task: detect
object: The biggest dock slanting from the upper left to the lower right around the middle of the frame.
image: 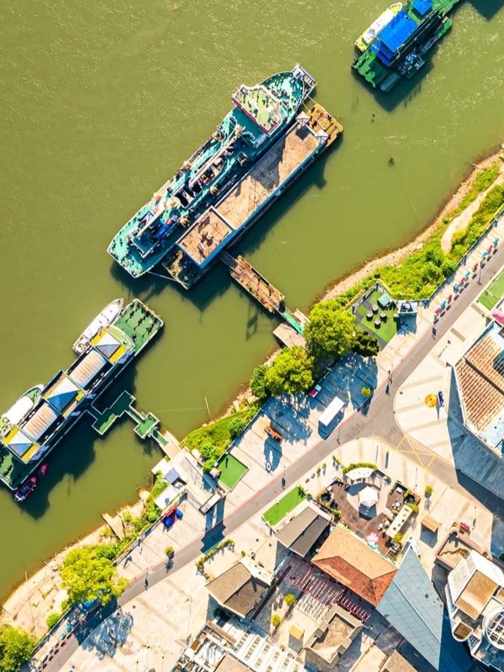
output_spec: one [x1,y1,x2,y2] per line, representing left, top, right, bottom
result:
[231,256,286,313]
